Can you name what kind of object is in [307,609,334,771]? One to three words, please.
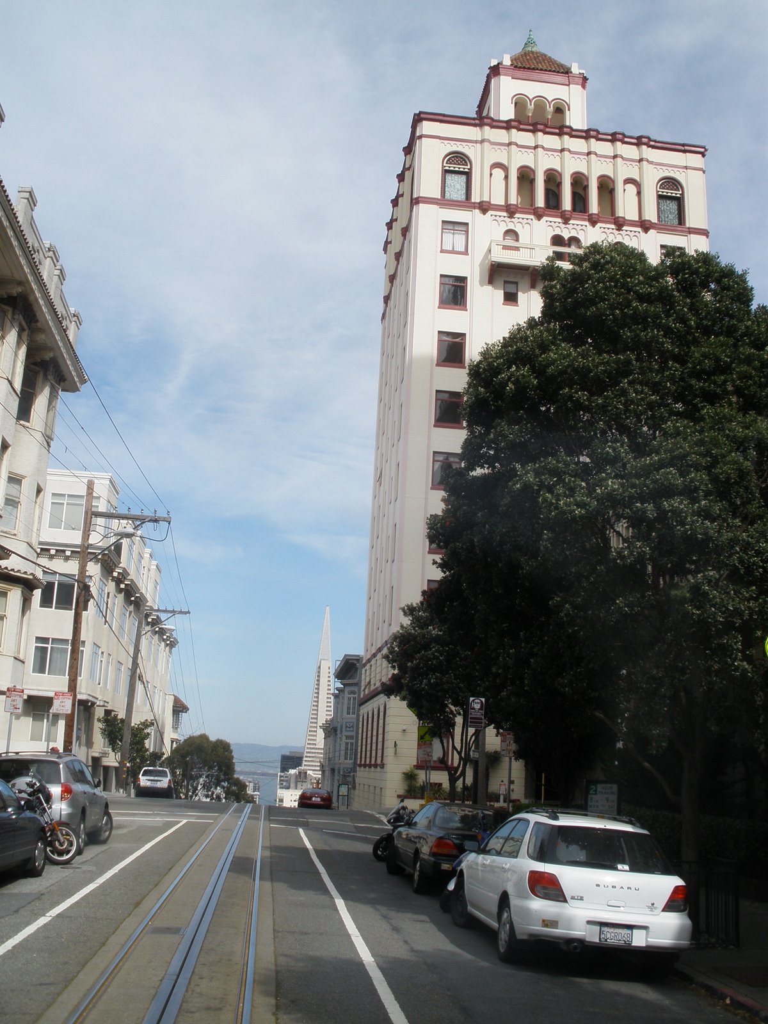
building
